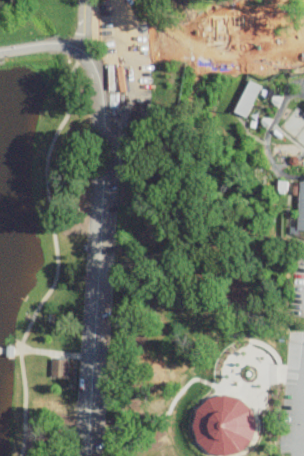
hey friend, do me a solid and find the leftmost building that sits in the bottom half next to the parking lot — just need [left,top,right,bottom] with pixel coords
[193,395,260,456]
